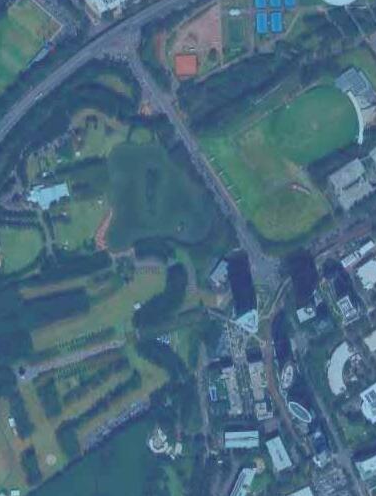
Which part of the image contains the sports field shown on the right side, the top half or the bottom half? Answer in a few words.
top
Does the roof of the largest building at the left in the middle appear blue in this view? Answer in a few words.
Yes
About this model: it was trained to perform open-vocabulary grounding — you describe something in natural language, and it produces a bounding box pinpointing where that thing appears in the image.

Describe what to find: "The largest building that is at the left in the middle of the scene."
[28,183,69,209]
